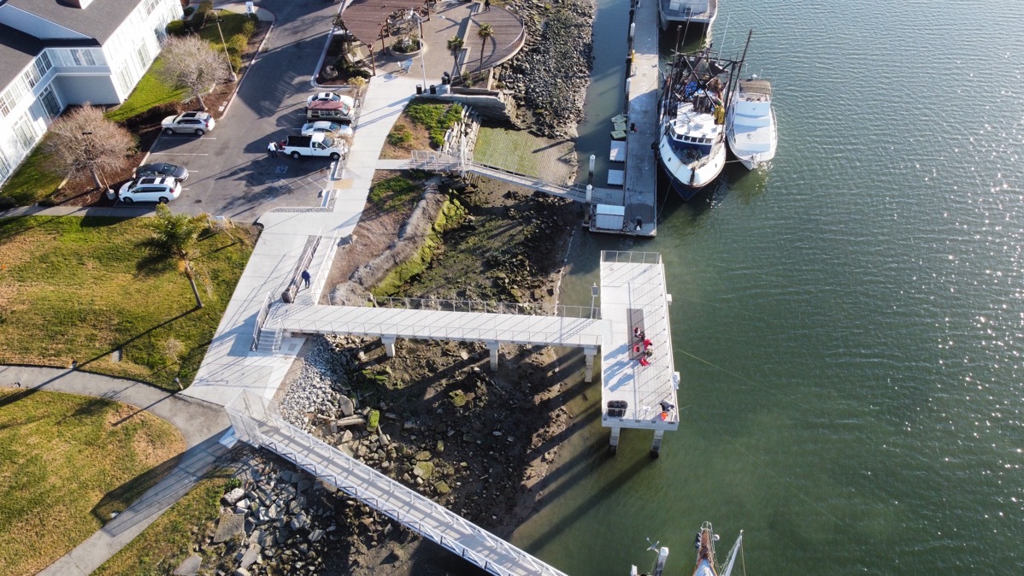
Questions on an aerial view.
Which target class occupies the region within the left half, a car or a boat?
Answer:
car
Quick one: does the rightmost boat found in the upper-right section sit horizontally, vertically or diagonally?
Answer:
vertically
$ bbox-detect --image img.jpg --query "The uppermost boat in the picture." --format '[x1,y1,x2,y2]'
[661,0,717,38]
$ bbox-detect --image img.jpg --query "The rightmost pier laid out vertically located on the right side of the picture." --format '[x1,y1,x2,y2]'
[588,0,659,240]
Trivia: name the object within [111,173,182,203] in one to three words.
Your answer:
car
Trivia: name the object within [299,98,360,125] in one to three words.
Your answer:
vehicle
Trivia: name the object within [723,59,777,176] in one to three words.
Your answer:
boat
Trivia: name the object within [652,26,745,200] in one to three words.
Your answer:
boat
